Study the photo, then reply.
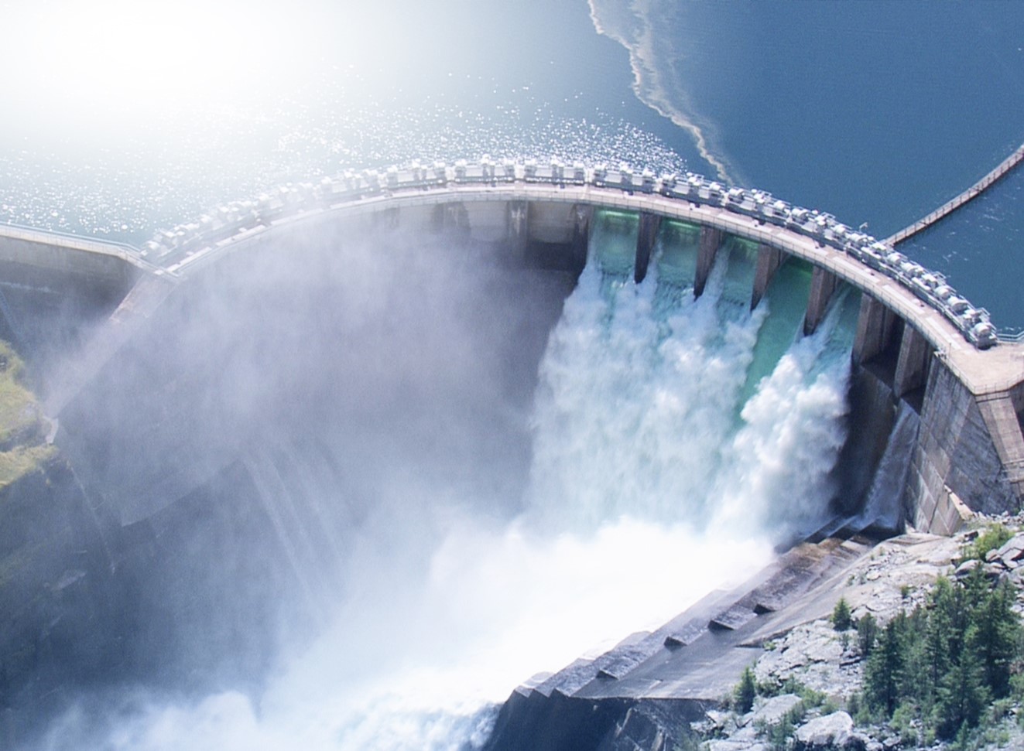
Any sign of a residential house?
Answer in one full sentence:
No, no residential house is visible in the scene.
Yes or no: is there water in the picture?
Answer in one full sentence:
Yes, some water is visible.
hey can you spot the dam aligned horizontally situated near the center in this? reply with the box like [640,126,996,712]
[44,166,1024,581]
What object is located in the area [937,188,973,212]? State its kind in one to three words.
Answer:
pier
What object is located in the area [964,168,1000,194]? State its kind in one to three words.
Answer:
pier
